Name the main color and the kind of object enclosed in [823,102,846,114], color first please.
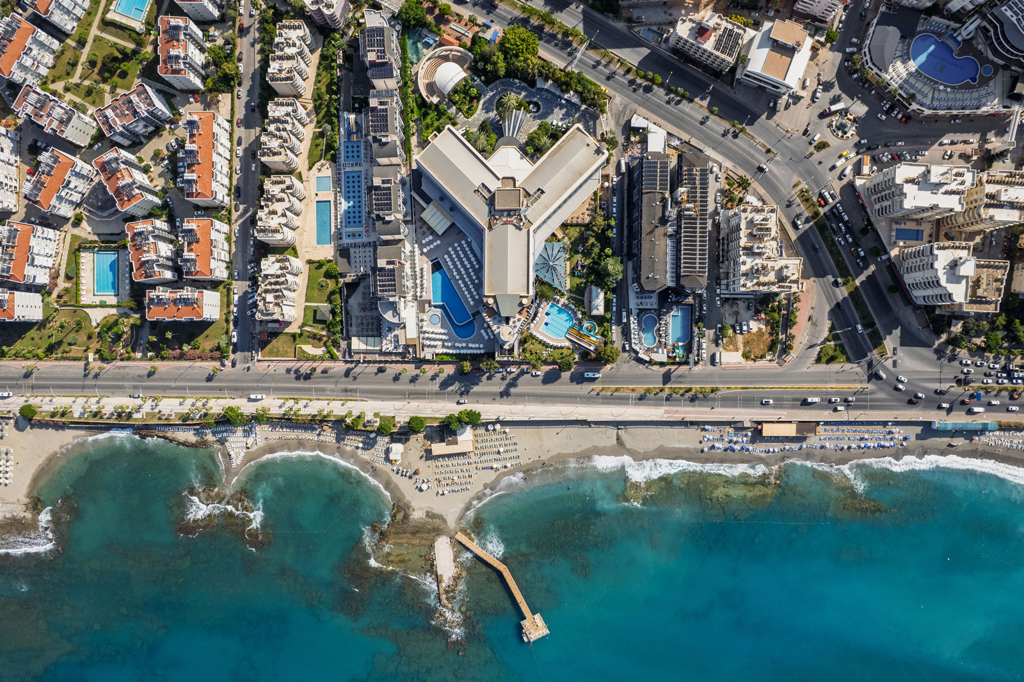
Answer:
white vehicle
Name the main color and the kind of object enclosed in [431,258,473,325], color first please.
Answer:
blue swimming pool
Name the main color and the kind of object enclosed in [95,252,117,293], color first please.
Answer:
blue swimming pool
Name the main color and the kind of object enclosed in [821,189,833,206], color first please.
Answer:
white vehicle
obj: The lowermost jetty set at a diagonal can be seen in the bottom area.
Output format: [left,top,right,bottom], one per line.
[455,530,550,643]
